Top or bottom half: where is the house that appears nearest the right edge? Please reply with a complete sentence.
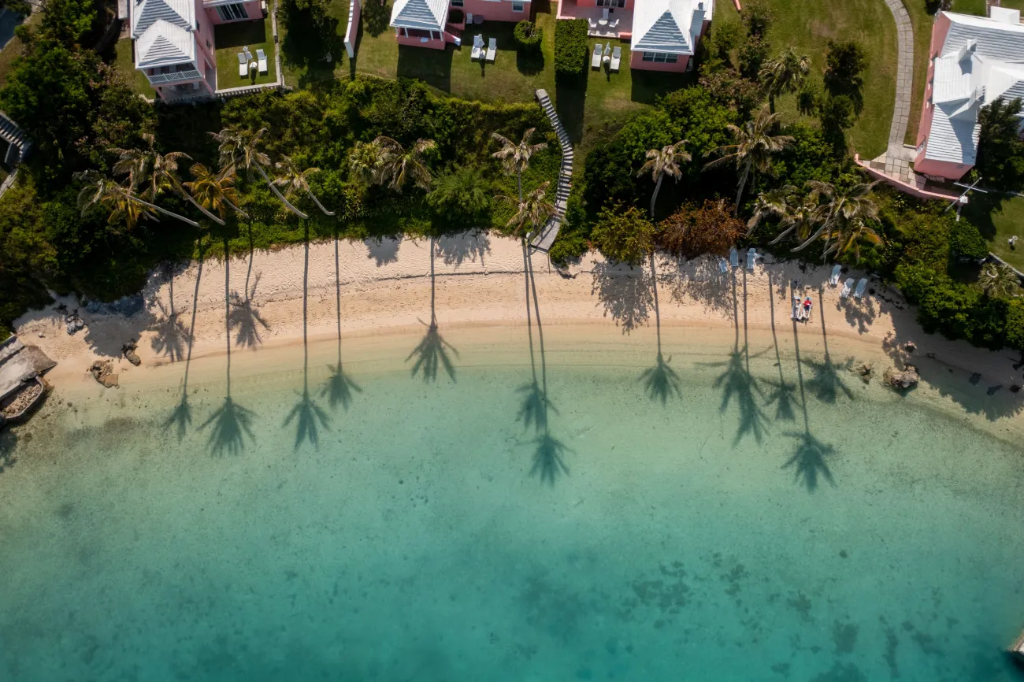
It is in the top half that the house that appears nearest the right edge appears.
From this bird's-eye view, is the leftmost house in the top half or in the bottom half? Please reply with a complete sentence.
The leftmost house sits in the top half of the picture.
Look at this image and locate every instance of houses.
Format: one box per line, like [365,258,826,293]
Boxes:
[556,0,712,72]
[130,0,266,100]
[389,0,532,49]
[914,2,1024,183]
